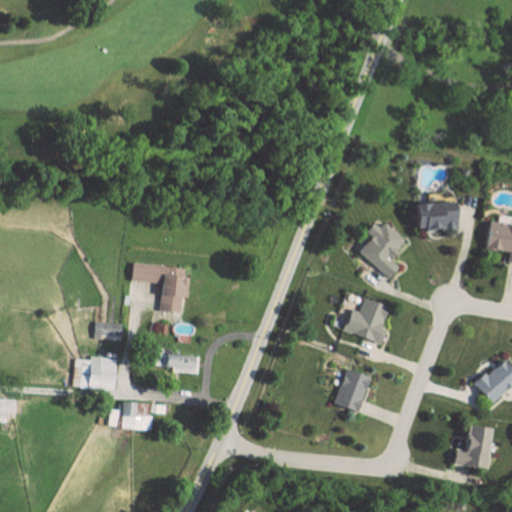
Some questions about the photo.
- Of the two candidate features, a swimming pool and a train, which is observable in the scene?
swimming pool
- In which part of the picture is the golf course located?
top left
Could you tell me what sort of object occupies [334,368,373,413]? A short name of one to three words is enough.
house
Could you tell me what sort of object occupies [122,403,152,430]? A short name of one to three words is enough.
building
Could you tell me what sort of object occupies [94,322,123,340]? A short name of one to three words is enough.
barn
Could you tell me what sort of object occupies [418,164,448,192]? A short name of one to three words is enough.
swimming pool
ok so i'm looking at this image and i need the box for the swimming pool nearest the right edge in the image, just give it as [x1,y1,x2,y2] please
[492,190,512,210]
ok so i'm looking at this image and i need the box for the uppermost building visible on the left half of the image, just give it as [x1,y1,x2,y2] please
[131,262,190,313]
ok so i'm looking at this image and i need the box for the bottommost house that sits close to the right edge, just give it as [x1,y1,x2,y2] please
[454,425,498,470]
